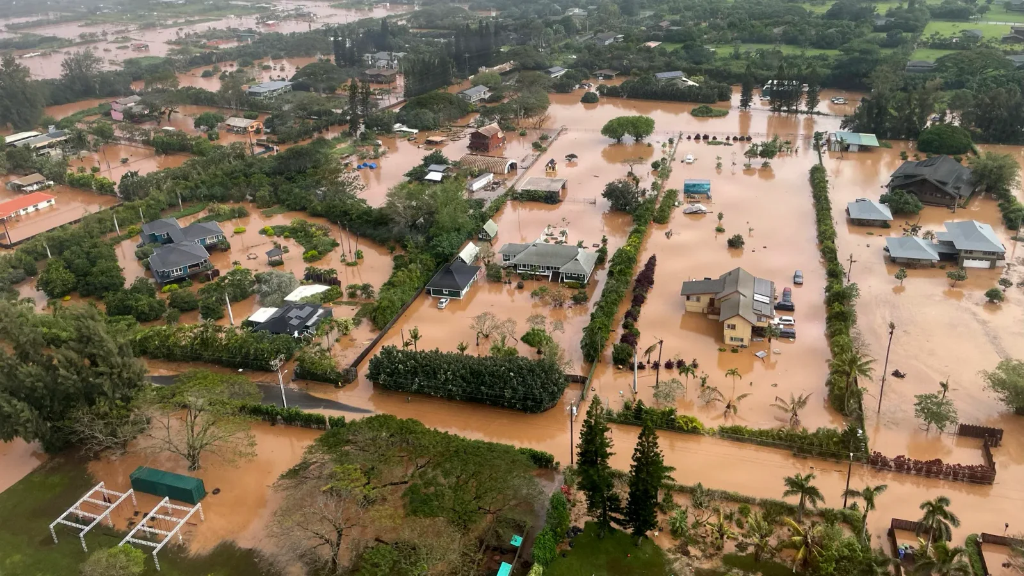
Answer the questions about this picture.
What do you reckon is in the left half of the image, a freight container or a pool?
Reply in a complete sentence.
The one visible in the left half of the image is a freight container.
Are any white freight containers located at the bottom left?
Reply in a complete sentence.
No, I can find no white freight container at the bottom left.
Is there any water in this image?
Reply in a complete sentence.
Yes, there's water in this view.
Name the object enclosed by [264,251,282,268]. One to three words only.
gazebo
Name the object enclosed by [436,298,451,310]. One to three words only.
vehicle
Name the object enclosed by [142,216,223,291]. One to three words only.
house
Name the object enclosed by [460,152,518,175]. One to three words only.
shed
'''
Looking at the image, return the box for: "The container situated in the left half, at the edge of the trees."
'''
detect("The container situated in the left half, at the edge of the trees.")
[130,466,206,501]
